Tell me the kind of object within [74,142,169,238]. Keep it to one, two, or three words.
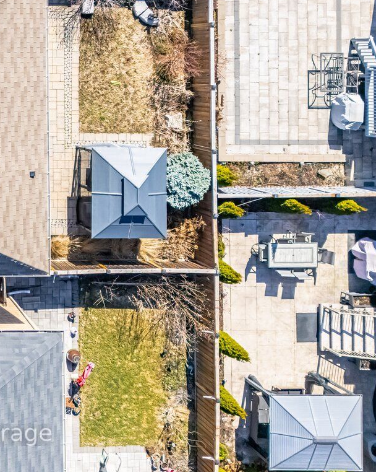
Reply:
gazebo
